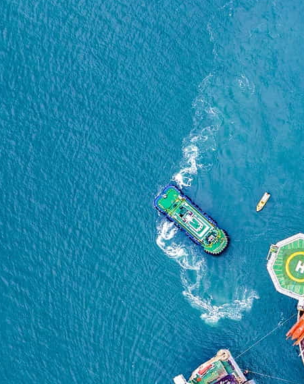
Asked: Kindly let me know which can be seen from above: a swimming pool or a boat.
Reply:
boat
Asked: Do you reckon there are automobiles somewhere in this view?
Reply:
No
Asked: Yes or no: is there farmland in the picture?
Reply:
No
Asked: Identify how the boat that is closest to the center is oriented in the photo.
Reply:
diagonally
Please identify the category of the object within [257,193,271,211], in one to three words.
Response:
boat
